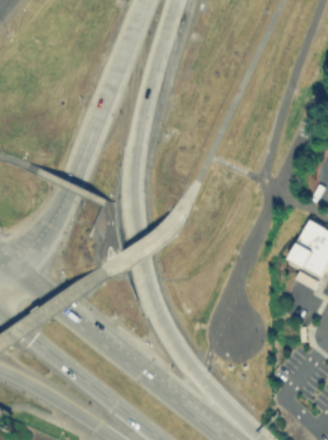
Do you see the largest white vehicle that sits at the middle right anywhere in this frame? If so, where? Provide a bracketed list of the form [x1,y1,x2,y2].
[312,183,325,202]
